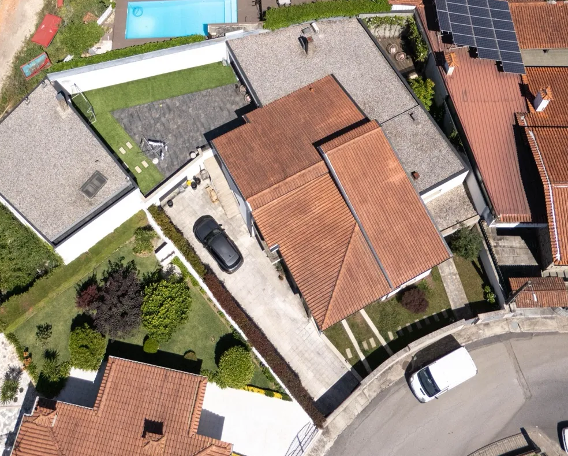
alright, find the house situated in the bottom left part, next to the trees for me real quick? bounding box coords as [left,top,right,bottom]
[12,355,232,456]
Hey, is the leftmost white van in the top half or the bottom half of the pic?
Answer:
bottom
